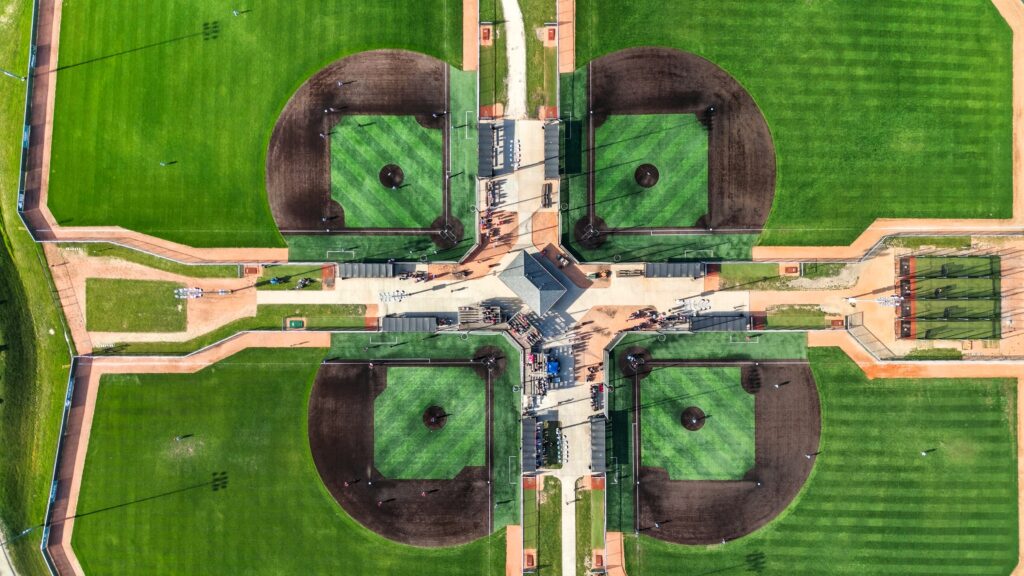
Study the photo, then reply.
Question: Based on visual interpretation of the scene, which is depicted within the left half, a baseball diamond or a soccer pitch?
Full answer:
What appears within the left half is a baseball diamond.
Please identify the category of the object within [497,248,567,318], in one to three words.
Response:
building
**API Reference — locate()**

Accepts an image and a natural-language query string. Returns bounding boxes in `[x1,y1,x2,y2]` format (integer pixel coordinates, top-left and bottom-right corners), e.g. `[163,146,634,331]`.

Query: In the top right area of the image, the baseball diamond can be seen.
[559,0,1024,262]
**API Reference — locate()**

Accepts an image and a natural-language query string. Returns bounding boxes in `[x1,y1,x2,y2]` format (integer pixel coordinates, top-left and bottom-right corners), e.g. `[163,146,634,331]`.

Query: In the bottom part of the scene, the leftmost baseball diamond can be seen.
[47,332,522,576]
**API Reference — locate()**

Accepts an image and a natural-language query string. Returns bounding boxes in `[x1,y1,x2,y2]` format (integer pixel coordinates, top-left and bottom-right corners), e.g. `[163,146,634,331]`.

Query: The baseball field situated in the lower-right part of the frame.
[606,331,1024,576]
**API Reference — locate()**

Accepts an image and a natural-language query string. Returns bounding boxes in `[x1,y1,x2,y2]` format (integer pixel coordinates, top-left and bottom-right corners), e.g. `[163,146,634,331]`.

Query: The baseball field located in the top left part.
[24,0,478,263]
